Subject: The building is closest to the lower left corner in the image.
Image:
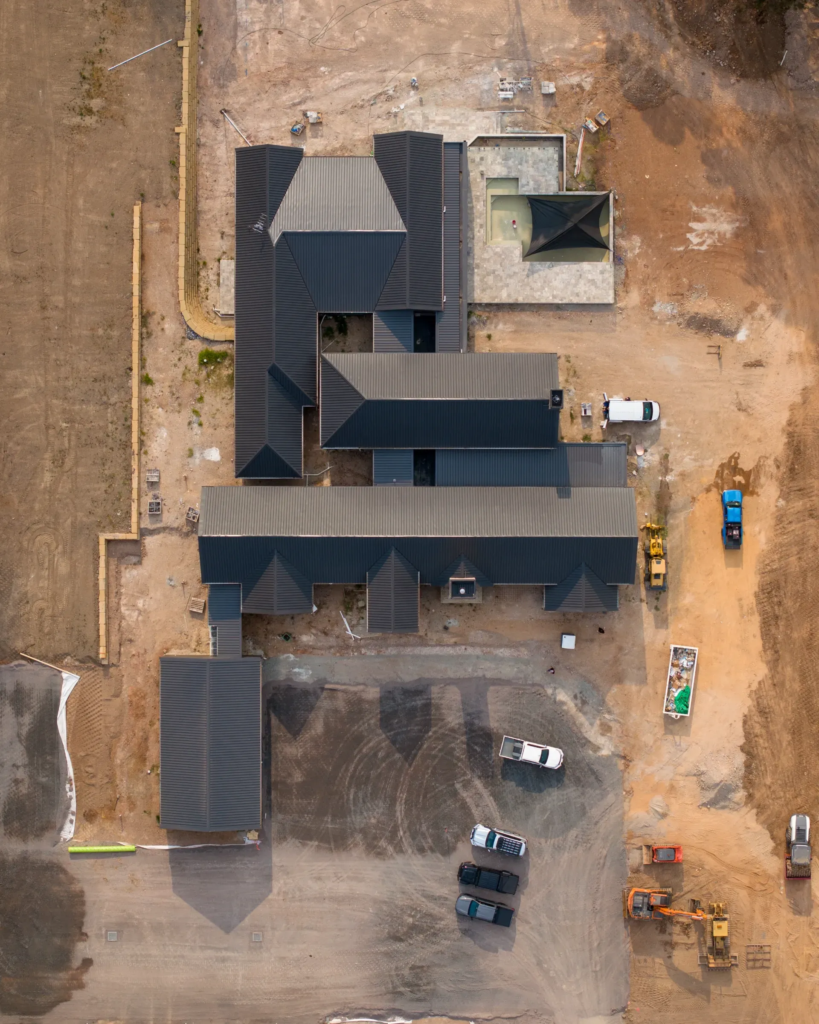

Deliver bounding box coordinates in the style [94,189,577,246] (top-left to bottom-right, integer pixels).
[159,657,262,832]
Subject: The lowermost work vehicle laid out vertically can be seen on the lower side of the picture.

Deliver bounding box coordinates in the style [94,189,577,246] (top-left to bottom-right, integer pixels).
[706,899,732,971]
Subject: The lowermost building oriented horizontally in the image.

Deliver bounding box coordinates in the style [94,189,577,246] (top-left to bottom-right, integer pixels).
[198,486,639,633]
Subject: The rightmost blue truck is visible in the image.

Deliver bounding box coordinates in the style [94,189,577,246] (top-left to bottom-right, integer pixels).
[720,489,746,550]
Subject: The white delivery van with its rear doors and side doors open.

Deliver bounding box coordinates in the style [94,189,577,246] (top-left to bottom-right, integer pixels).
[604,391,660,431]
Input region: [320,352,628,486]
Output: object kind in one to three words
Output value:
house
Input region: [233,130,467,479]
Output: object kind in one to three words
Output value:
house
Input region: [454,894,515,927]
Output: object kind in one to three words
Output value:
truck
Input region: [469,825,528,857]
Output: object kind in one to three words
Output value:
car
